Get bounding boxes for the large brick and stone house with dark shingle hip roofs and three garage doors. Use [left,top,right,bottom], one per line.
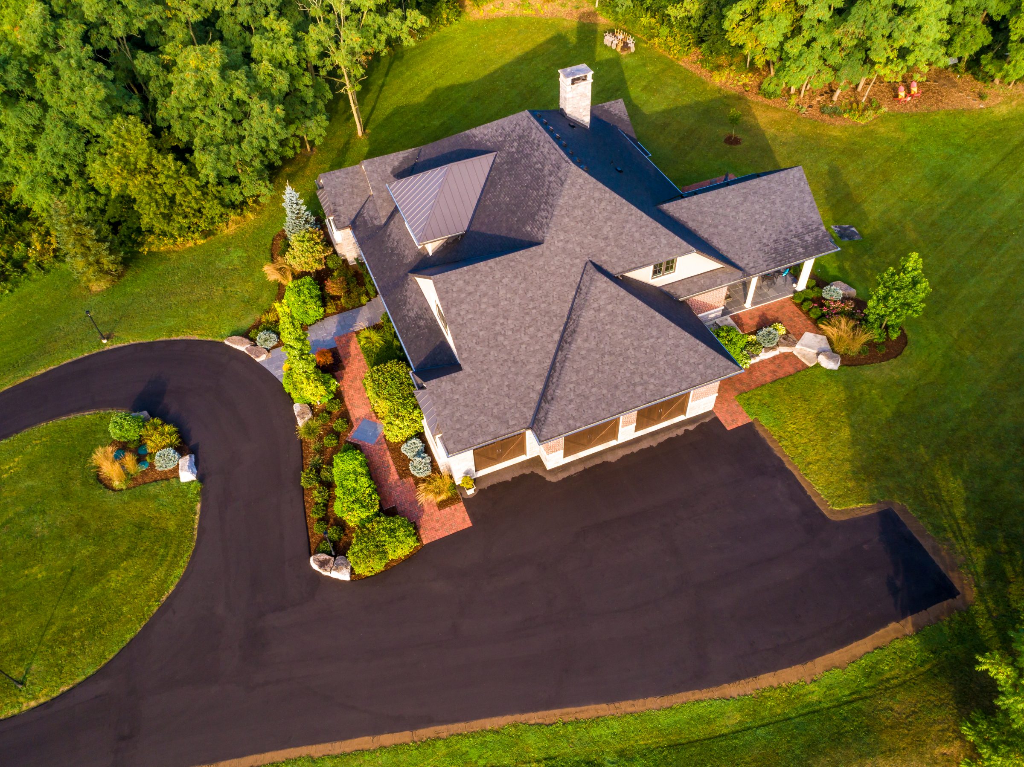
[303,64,843,486]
